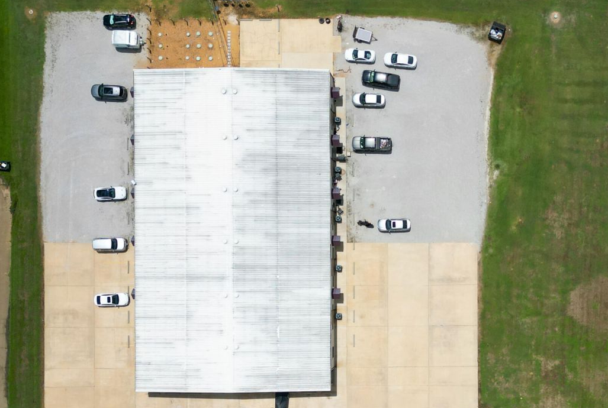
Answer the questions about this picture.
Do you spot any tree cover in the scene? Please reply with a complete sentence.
No, tree cover can't be seen anywhere here.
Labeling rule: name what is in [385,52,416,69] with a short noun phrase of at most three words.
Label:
car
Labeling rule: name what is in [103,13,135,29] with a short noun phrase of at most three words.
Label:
car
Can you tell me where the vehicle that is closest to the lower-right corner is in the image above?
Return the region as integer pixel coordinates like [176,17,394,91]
[377,218,411,234]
